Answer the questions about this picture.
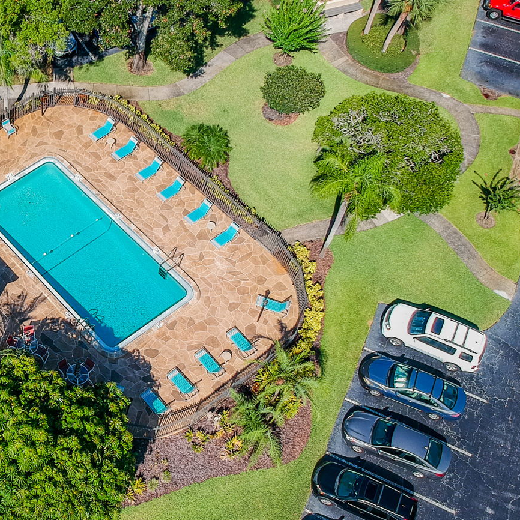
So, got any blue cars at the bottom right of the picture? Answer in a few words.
Yes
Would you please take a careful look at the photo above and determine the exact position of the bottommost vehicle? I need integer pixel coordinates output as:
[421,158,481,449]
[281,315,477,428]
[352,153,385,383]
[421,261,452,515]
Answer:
[306,461,417,520]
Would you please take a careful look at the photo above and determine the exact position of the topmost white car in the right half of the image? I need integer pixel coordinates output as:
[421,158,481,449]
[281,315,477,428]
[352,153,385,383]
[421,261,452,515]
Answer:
[377,306,486,376]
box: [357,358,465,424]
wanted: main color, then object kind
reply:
blue car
